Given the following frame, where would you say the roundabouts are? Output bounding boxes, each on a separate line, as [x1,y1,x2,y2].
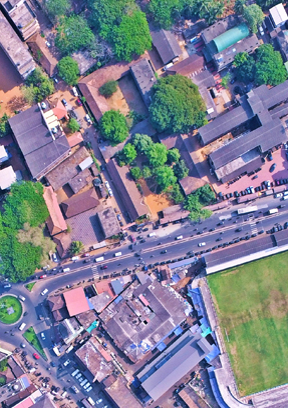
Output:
[0,279,39,338]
